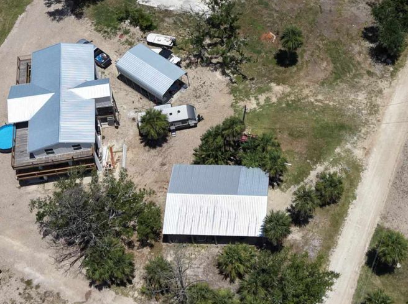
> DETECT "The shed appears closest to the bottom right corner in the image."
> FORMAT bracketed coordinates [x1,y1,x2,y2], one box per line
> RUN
[163,165,268,243]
